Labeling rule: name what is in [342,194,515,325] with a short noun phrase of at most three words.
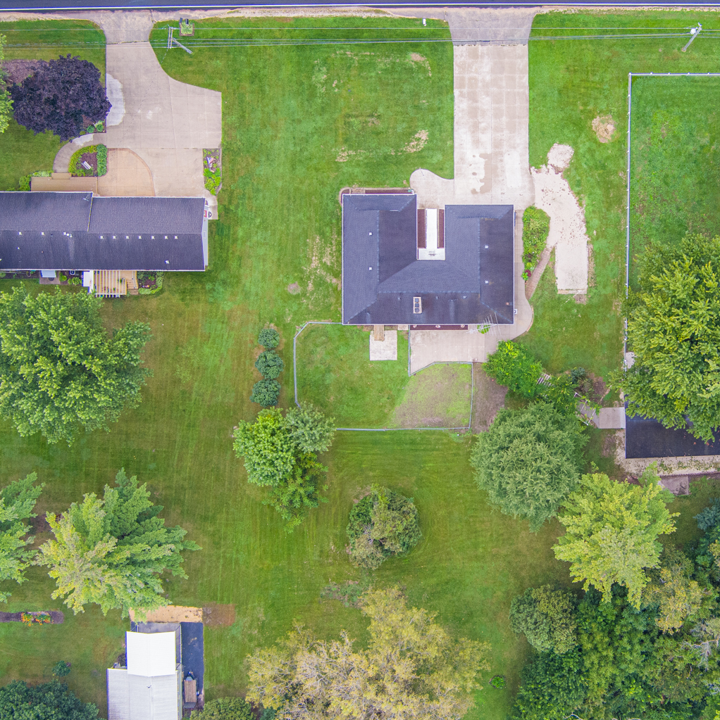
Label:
house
